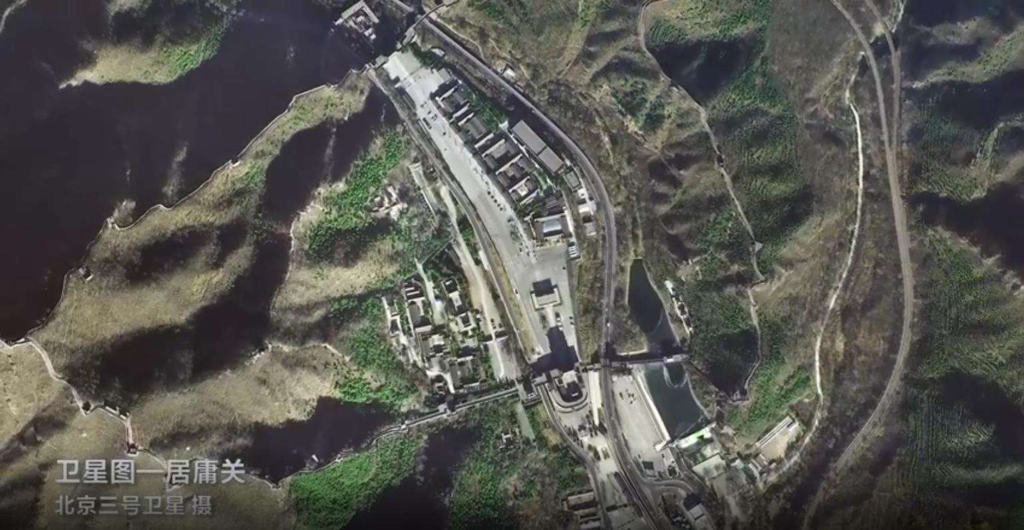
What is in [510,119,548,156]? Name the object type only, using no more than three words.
building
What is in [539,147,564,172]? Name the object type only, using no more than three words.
building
